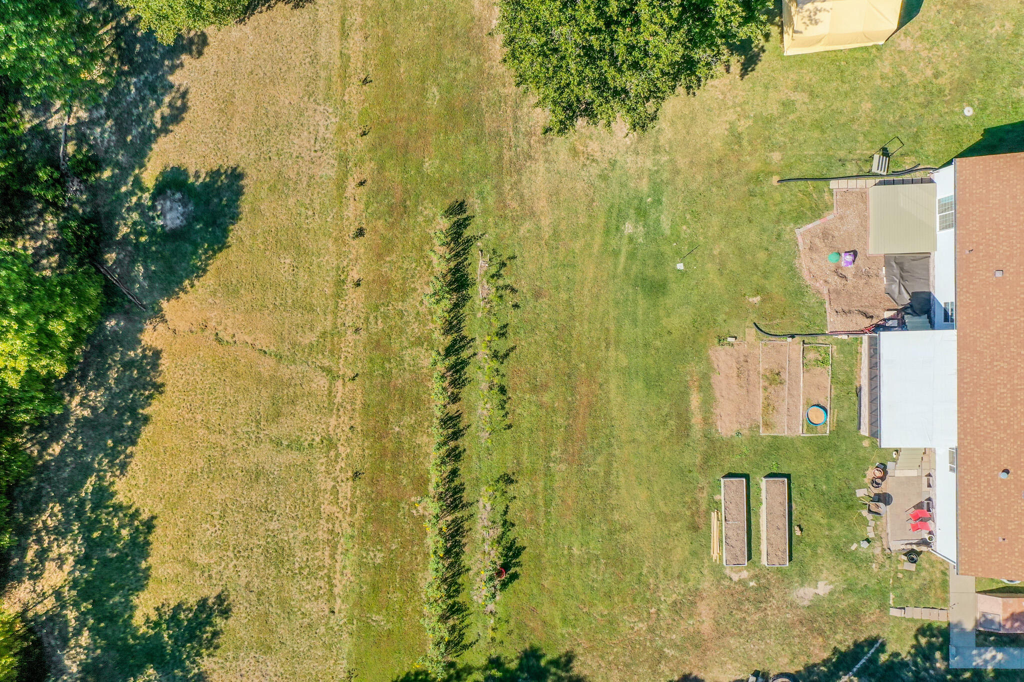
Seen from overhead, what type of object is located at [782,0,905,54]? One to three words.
tent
